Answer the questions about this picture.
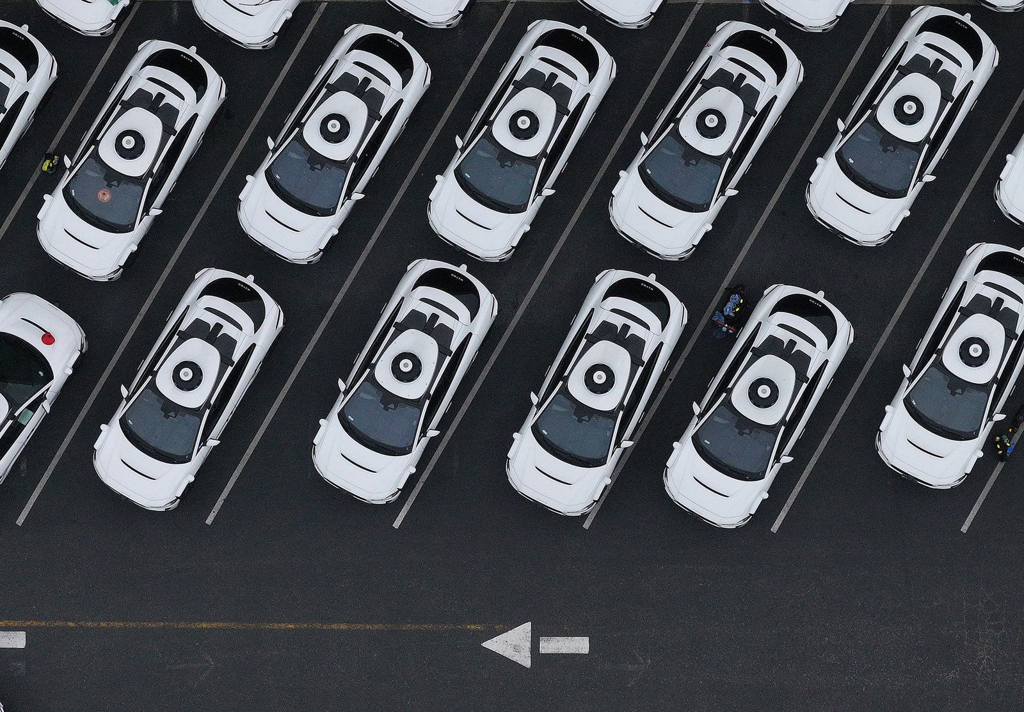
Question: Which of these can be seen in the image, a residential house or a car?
car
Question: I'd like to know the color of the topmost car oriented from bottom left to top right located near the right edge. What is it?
white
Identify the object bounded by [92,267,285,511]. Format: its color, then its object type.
white car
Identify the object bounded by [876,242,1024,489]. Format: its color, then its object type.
white car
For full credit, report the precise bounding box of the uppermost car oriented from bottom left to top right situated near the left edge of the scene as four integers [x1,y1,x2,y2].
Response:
[36,38,228,282]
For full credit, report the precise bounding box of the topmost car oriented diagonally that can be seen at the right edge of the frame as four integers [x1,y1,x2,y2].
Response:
[805,5,999,247]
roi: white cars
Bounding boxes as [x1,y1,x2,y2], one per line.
[575,0,666,29]
[382,0,472,28]
[237,23,433,265]
[312,258,499,504]
[663,283,854,528]
[92,267,285,511]
[805,5,999,247]
[36,38,228,282]
[34,0,135,36]
[192,0,302,49]
[427,18,617,262]
[0,292,86,484]
[758,0,856,32]
[876,242,1024,489]
[505,269,687,516]
[608,19,804,260]
[996,136,1024,229]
